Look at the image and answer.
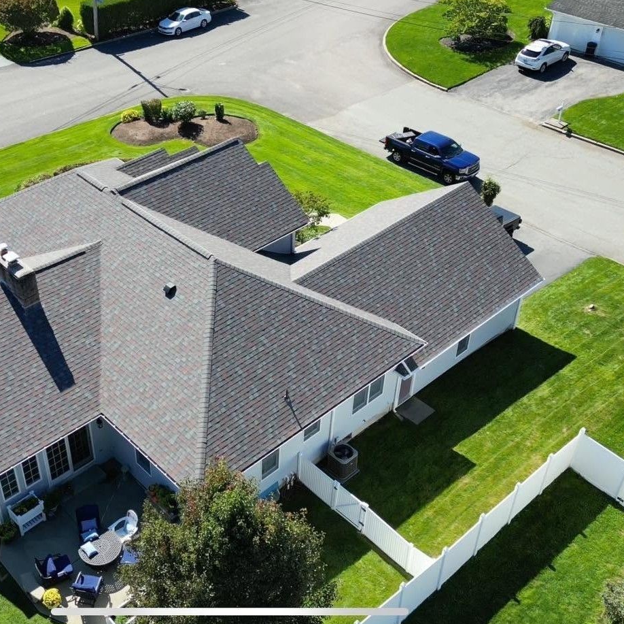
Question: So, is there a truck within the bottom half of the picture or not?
No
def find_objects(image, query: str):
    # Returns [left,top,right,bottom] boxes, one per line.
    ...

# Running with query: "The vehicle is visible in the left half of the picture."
[154,8,214,37]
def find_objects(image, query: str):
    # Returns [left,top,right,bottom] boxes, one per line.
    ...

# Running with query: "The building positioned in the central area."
[0,142,543,545]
